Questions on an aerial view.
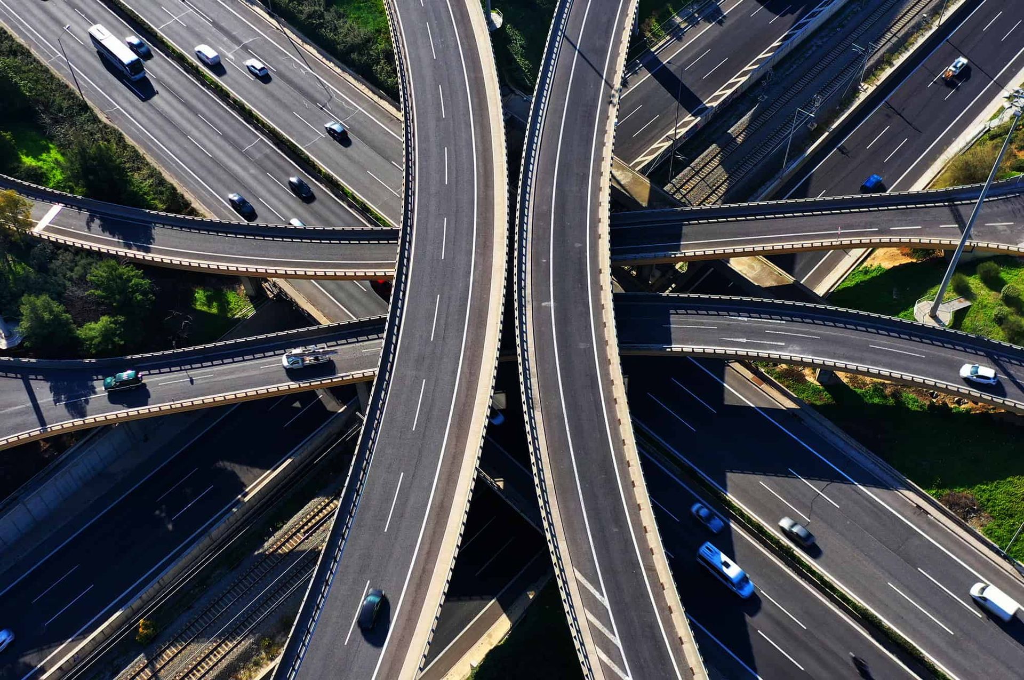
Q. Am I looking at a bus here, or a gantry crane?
bus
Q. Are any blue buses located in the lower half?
Yes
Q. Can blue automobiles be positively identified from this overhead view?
Yes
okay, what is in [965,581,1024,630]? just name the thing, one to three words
van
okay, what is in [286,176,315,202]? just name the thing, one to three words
car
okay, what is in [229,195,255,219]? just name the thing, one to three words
car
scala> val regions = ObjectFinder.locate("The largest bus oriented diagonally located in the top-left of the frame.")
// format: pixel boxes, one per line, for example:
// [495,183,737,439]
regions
[88,28,147,83]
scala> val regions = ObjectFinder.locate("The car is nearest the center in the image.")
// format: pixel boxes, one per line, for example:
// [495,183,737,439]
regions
[489,402,510,429]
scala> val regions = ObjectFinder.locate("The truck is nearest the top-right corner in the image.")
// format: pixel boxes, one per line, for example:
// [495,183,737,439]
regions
[941,61,967,82]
